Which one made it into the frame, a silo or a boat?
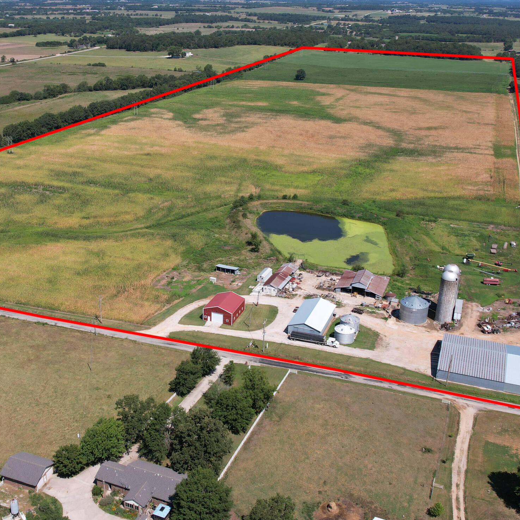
silo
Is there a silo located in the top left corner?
No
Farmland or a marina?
farmland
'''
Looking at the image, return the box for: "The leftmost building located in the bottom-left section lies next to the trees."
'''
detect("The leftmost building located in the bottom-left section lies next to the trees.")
[0,461,54,497]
